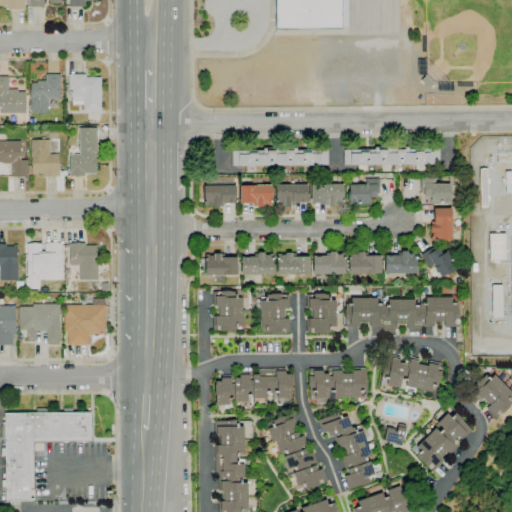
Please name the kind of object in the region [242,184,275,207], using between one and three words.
house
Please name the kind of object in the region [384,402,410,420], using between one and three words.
swimming pool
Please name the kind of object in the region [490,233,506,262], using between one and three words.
shed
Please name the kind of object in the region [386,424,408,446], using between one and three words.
building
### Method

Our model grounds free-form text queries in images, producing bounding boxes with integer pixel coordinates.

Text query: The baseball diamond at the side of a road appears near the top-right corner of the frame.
[426,0,512,84]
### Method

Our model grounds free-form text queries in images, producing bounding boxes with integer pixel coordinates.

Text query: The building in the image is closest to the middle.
[243,254,275,275]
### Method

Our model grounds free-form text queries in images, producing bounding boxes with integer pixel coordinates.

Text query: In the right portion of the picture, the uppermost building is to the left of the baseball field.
[276,0,344,28]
